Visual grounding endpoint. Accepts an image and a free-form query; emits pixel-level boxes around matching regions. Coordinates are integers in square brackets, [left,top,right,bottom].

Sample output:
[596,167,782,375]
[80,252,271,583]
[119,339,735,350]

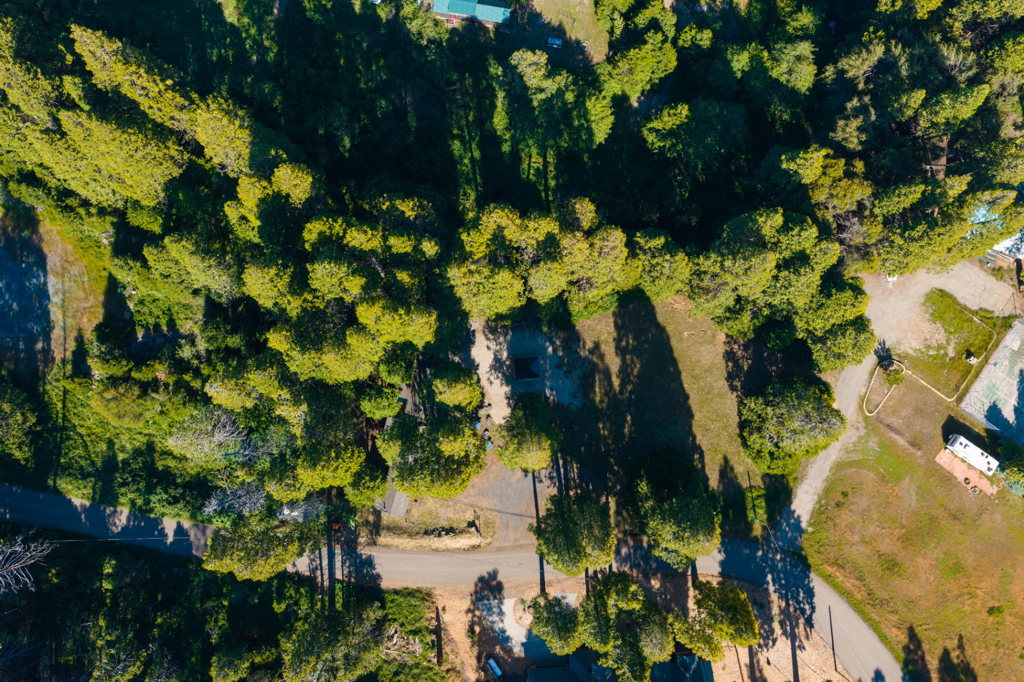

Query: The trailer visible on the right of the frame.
[937,431,998,475]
